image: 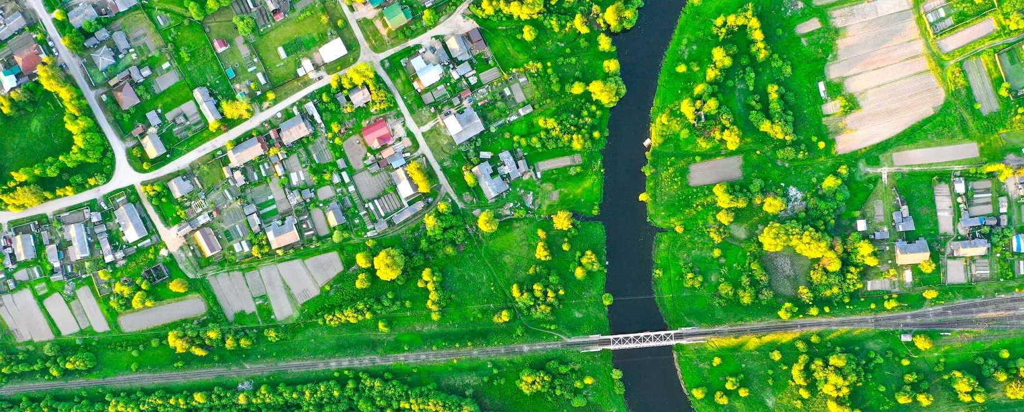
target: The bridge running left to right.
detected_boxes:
[573,326,708,354]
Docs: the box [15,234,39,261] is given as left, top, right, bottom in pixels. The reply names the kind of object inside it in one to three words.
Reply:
house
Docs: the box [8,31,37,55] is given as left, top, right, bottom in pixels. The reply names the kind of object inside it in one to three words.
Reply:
barn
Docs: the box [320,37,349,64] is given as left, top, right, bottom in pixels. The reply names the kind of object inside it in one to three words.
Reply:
building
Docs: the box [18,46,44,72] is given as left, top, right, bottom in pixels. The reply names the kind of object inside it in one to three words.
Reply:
house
